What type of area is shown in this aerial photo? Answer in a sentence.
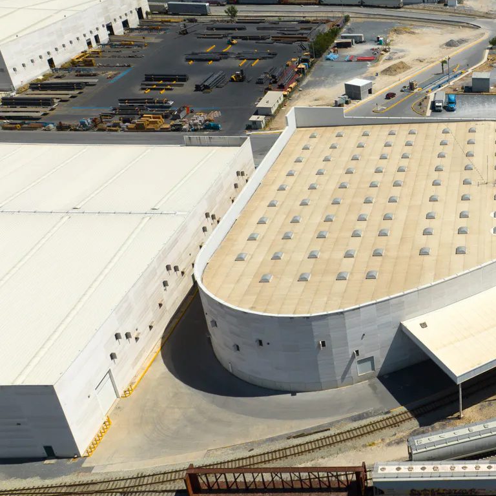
It's an industrial area.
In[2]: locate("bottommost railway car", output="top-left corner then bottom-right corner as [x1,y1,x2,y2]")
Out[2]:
[371,459,496,496]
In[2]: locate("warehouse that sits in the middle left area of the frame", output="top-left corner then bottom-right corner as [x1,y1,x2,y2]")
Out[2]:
[0,128,256,466]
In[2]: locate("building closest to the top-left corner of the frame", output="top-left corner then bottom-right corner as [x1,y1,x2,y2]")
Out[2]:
[0,0,150,89]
